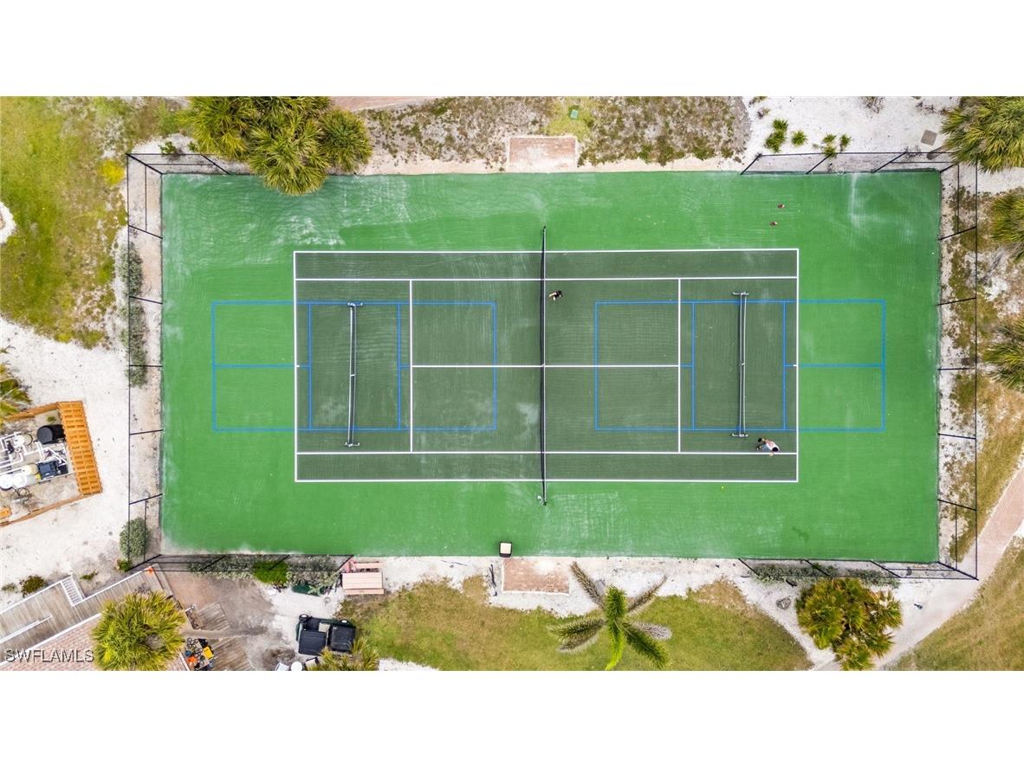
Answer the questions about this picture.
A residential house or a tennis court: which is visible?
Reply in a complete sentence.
This aerial view contains a tennis court.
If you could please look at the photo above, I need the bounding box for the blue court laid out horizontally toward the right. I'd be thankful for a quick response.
[595,300,885,431]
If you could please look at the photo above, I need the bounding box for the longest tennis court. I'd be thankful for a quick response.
[160,171,941,562]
